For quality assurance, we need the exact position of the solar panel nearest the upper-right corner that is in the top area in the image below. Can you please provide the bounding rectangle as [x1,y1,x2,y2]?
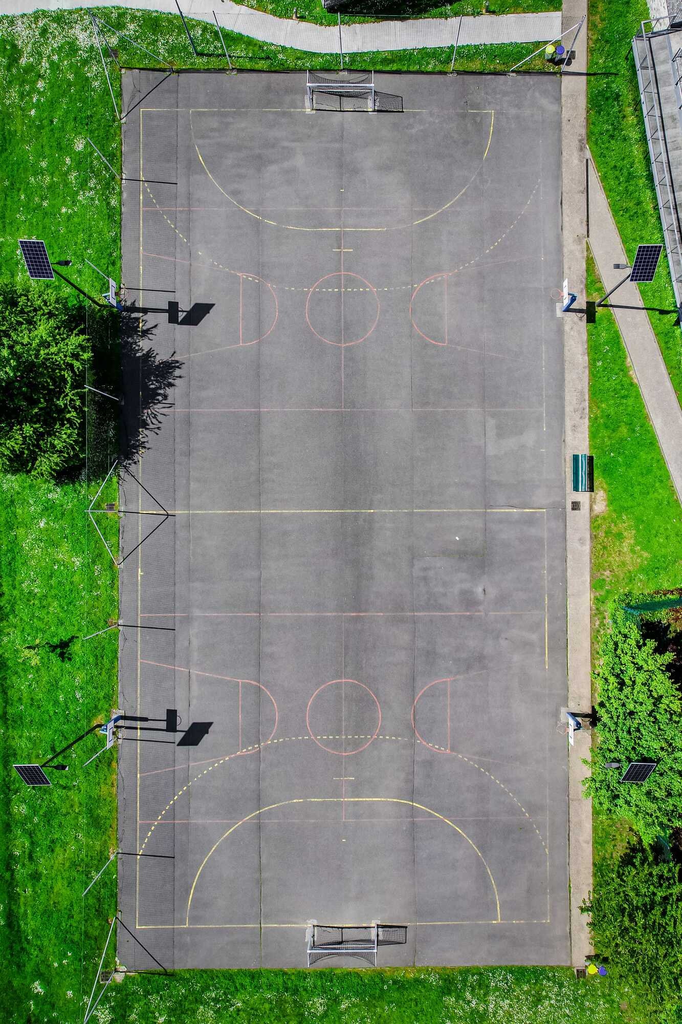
[628,240,665,280]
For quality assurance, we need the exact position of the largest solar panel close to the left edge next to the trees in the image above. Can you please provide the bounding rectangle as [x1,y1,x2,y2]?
[17,239,56,278]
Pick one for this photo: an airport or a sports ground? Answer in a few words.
sports ground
